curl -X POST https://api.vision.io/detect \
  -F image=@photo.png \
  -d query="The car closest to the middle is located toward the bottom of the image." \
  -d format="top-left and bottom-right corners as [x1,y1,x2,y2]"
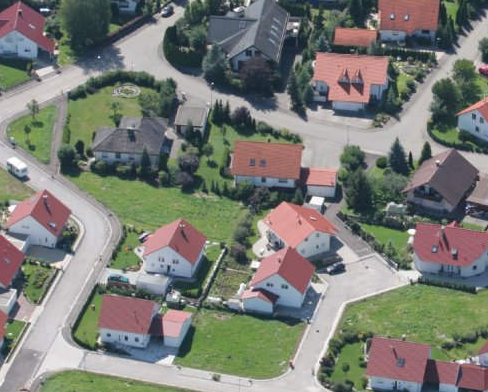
[323,260,350,276]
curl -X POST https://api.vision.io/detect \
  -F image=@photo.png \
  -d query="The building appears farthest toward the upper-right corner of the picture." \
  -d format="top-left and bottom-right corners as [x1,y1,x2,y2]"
[378,0,440,41]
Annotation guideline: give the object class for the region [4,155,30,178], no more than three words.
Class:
camper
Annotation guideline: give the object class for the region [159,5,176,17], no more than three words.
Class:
vehicle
